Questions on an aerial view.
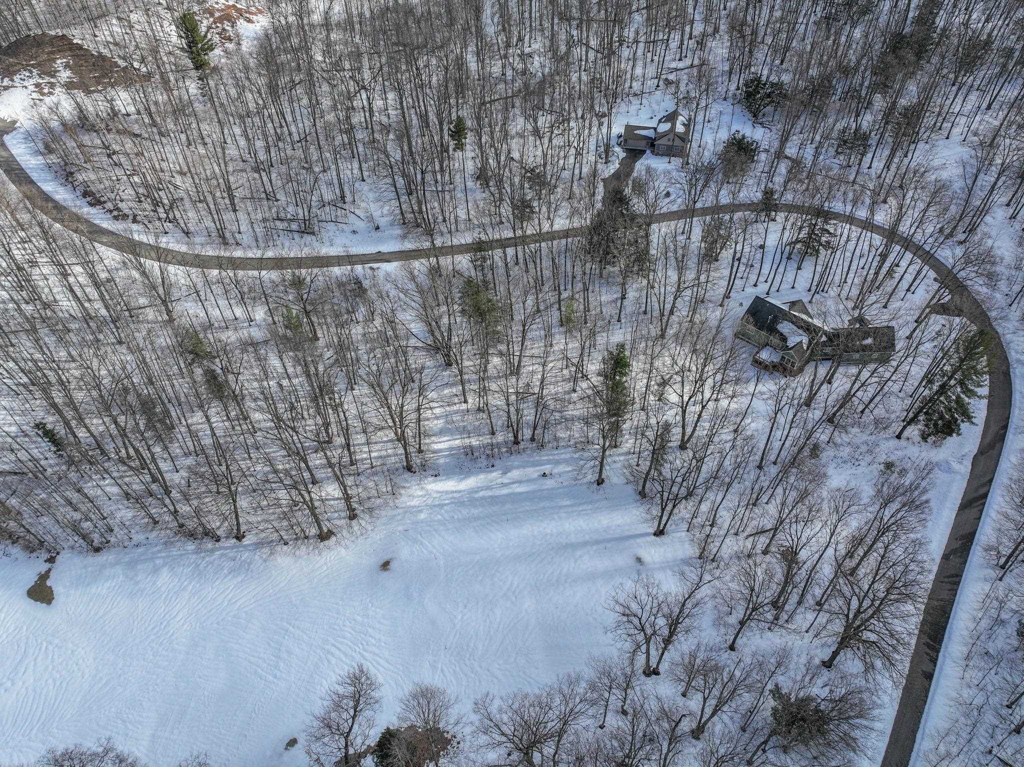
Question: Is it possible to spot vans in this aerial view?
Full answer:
No, there appears to be no van in this shot.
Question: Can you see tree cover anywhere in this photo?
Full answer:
Yes, tree cover shows up in the scene.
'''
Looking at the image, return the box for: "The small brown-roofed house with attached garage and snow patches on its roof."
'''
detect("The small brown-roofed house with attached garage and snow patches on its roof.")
[624,110,688,155]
